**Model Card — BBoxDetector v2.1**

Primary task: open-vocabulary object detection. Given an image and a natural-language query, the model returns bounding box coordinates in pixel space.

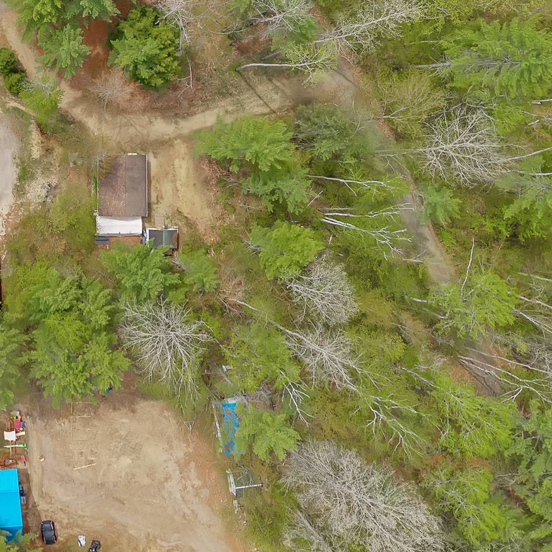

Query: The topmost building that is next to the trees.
[96,152,148,219]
